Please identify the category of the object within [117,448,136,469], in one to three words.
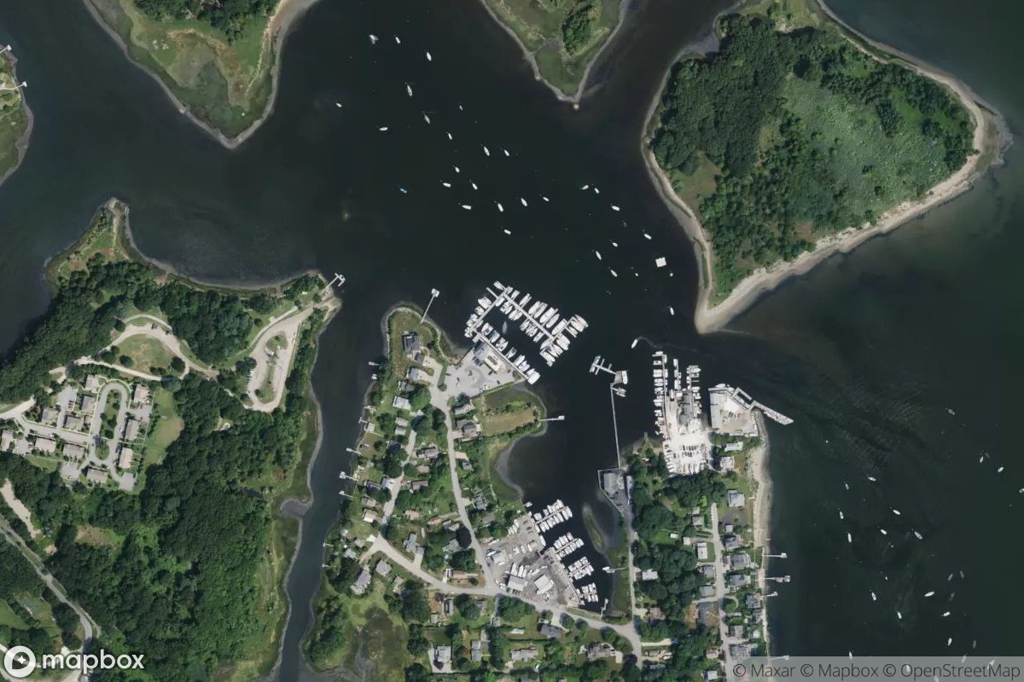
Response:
house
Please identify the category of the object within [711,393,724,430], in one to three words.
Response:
shed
